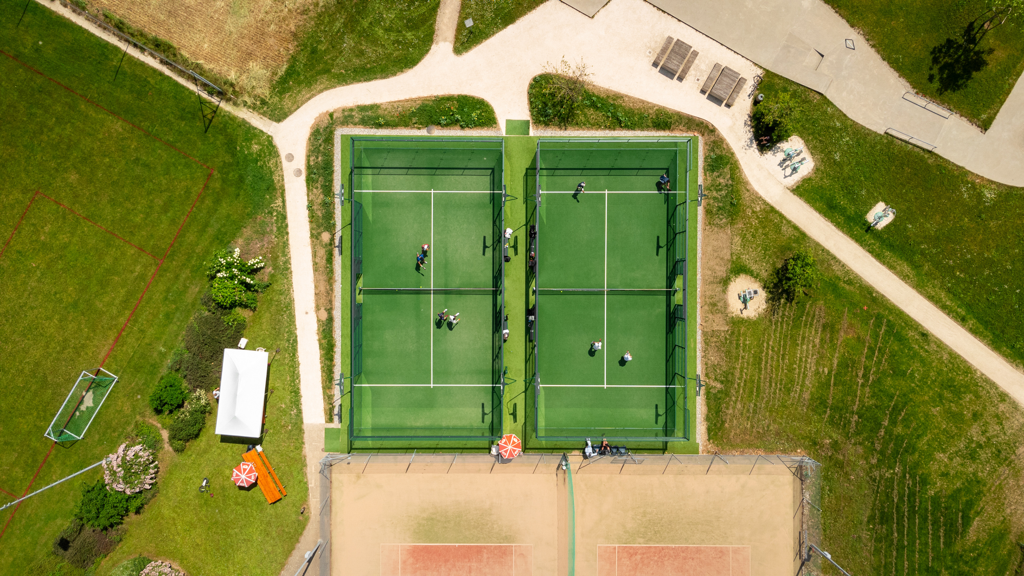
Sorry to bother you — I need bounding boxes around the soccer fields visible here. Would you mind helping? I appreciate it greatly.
[0,0,239,576]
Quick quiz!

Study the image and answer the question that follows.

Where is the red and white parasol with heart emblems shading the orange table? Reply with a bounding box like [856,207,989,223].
[232,463,257,488]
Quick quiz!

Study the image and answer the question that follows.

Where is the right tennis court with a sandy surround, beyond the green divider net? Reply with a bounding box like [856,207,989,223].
[558,454,802,576]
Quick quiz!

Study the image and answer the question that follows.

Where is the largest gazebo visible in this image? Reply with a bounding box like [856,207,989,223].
[216,348,280,437]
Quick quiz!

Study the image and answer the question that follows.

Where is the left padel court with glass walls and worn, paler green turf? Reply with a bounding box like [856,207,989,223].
[349,135,504,441]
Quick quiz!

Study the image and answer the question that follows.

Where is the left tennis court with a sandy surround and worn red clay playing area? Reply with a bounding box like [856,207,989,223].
[330,455,558,576]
